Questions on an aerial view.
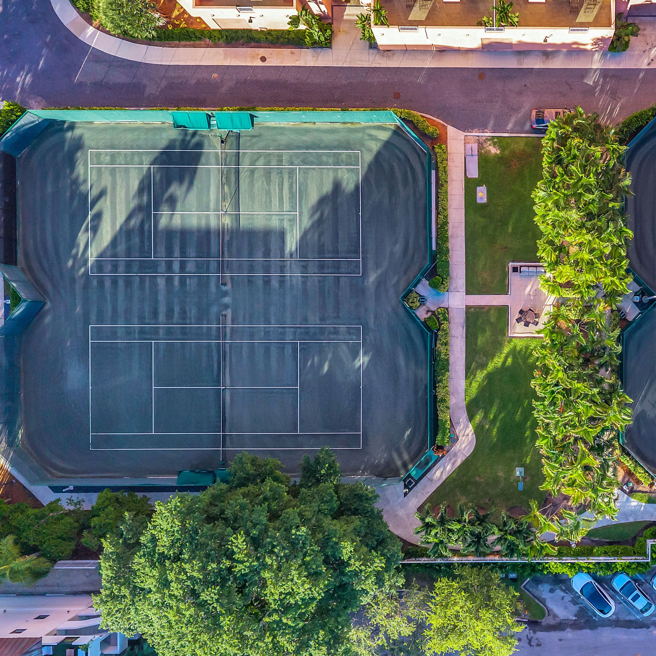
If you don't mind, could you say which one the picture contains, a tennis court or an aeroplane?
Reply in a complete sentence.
The one in the frame is a tennis court.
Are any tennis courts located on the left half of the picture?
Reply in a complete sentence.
Yes, a tennis court appears on the left half of the picture.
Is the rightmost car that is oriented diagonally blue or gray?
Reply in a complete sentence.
The rightmost car that is oriented diagonally looks blue in the image.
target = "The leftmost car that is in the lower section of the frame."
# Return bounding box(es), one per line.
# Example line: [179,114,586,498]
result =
[571,576,618,623]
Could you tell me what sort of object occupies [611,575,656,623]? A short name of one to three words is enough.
car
